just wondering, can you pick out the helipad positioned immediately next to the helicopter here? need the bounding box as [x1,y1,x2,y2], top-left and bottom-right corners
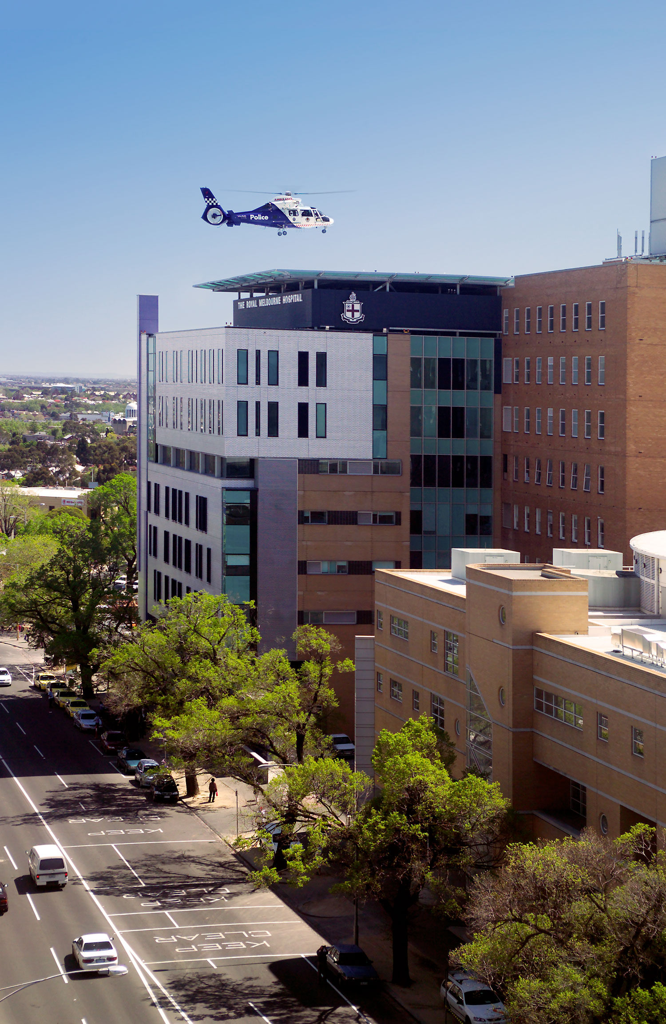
[213,275,497,292]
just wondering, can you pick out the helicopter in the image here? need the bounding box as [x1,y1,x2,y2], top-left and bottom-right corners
[201,186,355,237]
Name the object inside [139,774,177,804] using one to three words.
car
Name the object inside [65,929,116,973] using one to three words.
car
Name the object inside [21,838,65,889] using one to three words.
van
